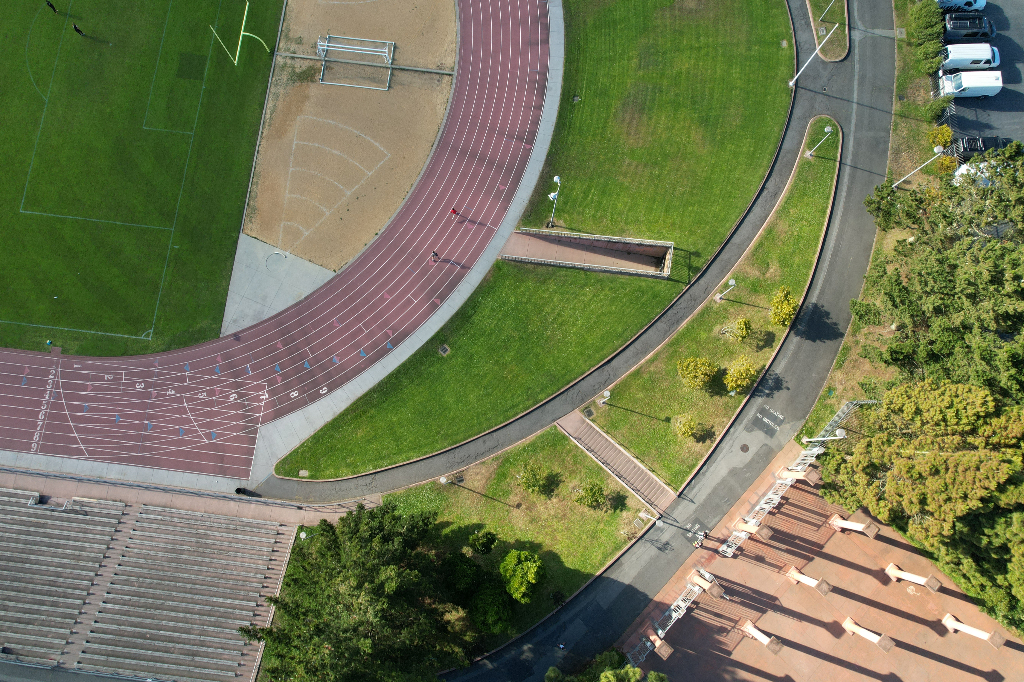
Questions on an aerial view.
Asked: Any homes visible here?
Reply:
No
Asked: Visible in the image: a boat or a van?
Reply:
van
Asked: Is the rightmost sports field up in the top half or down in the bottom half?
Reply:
top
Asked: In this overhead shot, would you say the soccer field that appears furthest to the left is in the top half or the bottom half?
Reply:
top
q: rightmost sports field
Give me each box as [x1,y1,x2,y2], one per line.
[242,0,460,275]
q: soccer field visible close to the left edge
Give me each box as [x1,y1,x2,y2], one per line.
[0,0,286,357]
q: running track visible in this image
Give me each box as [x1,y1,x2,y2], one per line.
[0,0,549,480]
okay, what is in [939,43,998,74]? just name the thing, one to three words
van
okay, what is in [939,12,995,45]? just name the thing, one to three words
van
